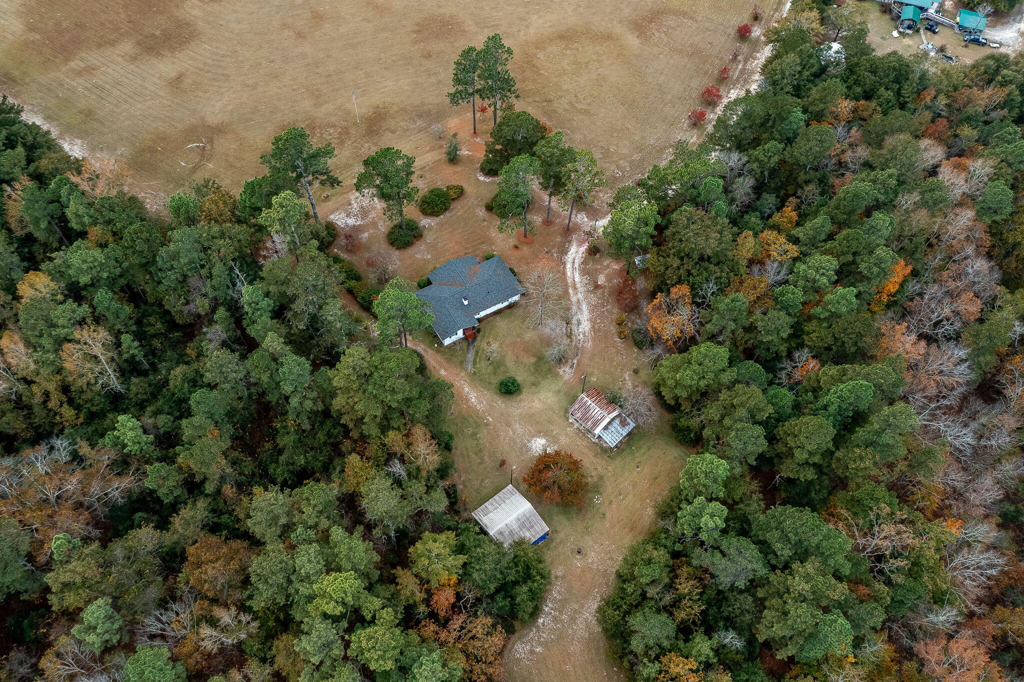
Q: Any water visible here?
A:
No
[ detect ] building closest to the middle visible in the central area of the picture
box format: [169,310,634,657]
[427,255,526,346]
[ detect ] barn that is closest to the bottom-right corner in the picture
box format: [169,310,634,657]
[568,388,635,453]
